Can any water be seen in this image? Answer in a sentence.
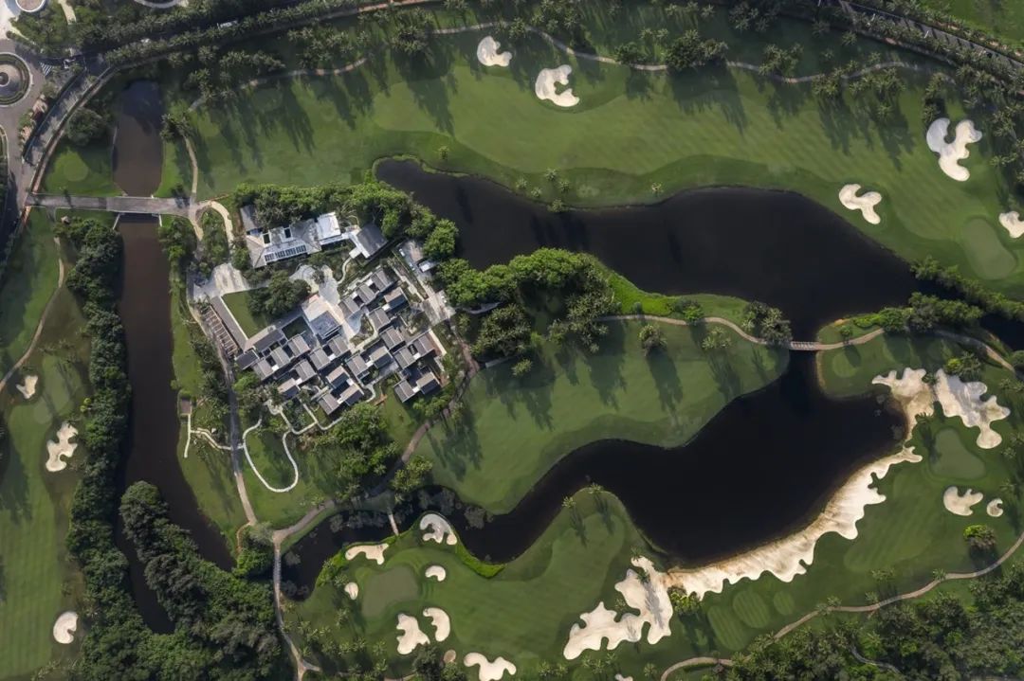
Yes, there's water in this view.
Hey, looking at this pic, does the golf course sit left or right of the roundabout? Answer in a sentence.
The roundabout has the golf course on its right side.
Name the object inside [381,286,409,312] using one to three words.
house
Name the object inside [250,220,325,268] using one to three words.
building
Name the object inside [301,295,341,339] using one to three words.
building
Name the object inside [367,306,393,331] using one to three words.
house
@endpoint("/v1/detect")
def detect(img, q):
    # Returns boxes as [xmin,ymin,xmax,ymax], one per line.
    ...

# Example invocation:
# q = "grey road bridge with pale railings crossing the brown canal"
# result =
[104,191,172,230]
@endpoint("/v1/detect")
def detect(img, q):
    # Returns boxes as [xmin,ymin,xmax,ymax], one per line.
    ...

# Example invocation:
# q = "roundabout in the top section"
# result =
[0,46,33,109]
